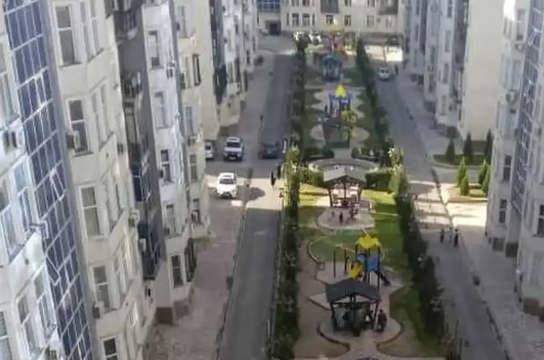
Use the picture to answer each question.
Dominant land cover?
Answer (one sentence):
The largest share of the image is taken up by buildings.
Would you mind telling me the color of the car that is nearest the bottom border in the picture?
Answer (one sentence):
From above, the car that is nearest the bottom border appears white.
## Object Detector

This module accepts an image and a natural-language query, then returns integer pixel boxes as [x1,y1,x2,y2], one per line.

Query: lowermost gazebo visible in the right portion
[325,272,384,333]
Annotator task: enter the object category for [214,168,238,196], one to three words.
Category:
car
